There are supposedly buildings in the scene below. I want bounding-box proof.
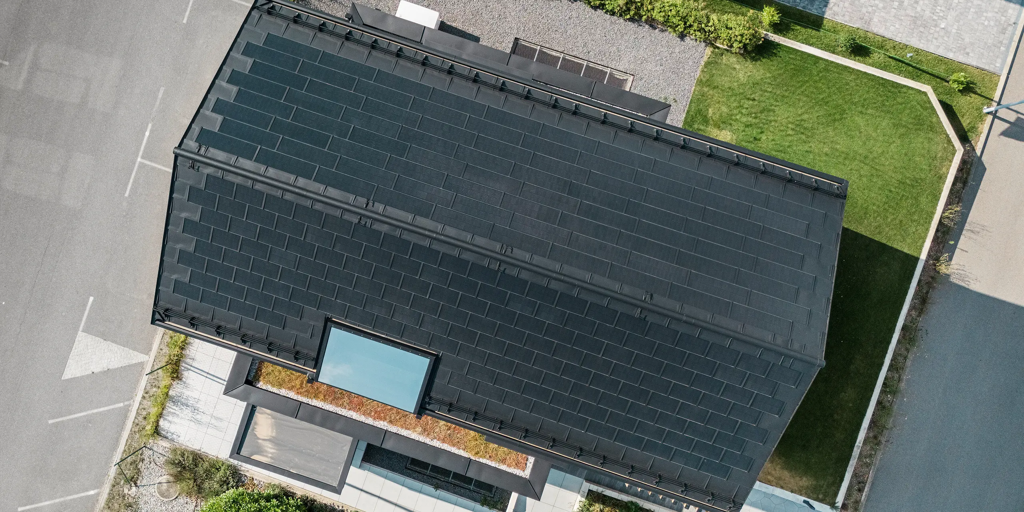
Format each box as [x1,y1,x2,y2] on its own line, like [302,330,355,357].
[150,0,850,512]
